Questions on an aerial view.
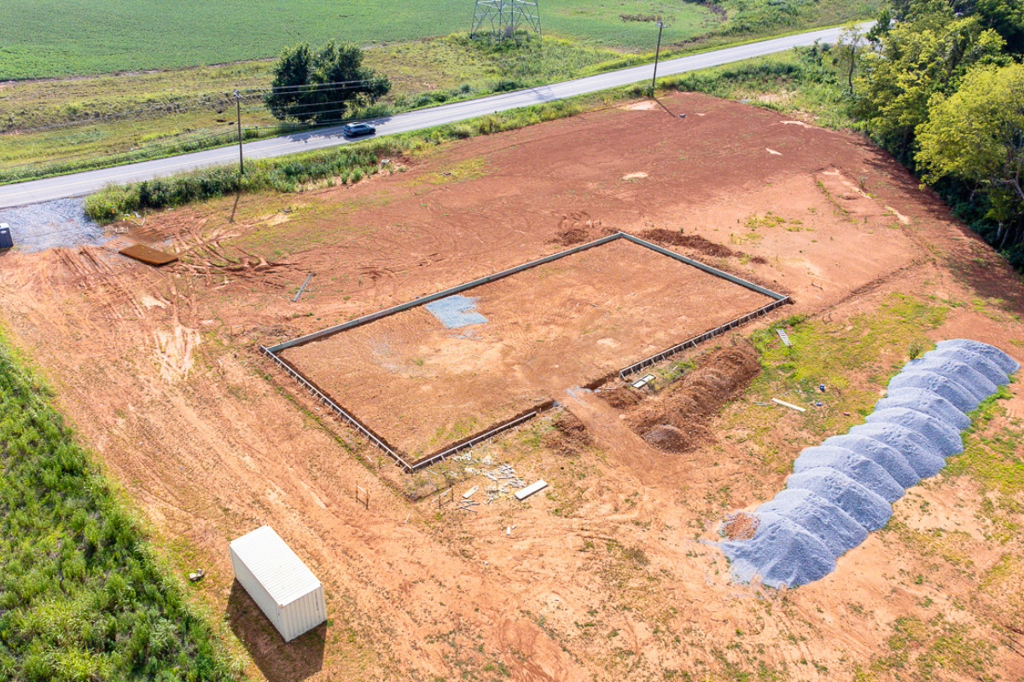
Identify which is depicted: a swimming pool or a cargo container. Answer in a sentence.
It is a cargo container that can be seen here.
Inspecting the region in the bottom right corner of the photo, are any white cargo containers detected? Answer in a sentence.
No, I can find no white cargo container in the bottom right corner of the photo.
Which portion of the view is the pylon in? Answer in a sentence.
The pylon appears toward the top of the photo.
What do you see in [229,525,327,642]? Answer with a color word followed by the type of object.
white shipping container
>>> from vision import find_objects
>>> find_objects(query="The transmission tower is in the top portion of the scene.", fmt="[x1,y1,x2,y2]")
[468,0,544,47]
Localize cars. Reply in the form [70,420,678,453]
[343,122,377,137]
